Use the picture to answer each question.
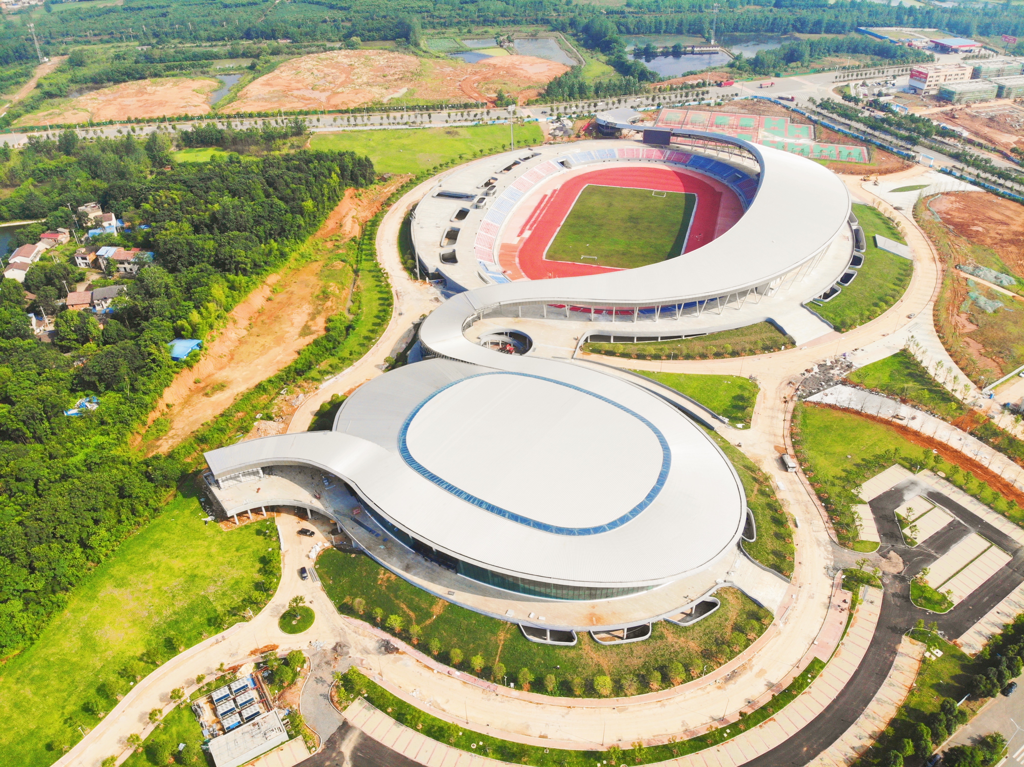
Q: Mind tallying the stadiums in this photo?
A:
2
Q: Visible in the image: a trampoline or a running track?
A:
running track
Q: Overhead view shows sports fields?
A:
Yes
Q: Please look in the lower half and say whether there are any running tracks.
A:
No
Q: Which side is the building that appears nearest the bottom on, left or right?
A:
left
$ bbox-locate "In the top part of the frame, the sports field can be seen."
[547,185,696,270]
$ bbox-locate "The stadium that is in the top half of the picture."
[411,108,913,360]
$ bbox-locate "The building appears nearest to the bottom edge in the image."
[205,707,296,767]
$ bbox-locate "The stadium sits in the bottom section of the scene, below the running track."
[201,292,792,646]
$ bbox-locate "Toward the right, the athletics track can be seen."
[519,168,723,279]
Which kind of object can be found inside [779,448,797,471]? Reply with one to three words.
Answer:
vehicle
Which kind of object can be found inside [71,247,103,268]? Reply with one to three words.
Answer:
house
